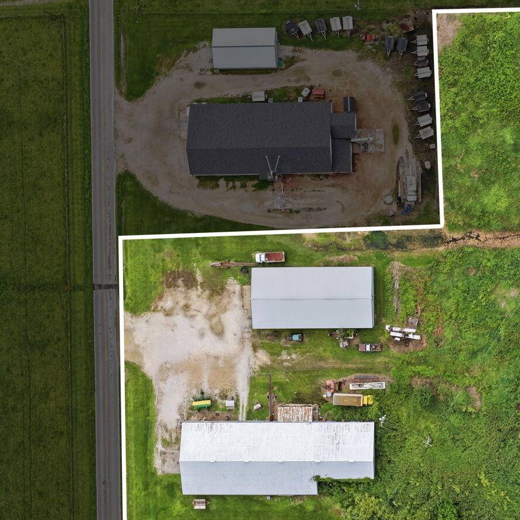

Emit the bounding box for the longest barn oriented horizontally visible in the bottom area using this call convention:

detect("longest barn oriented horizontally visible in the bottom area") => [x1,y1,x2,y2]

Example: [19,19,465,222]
[178,420,374,496]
